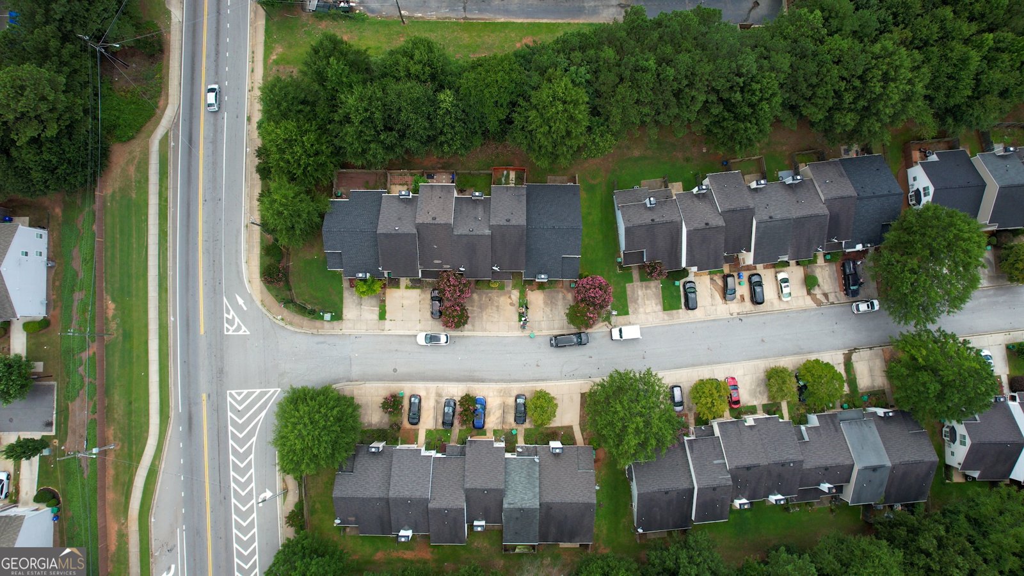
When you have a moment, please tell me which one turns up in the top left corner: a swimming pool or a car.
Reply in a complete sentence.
What appears in the top left corner is a car.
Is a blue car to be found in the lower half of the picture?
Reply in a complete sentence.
Yes, looking in the lower half of the picture, one can make out a blue car.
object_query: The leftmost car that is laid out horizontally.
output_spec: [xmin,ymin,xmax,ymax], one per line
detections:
[416,331,450,347]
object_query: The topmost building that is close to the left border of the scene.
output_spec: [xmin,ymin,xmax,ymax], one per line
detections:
[0,224,48,321]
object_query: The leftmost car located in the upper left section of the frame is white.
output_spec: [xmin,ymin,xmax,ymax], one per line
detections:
[206,84,222,113]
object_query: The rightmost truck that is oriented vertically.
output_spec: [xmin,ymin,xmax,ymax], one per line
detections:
[840,259,862,298]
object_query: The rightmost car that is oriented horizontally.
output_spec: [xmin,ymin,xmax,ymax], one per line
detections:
[848,299,880,315]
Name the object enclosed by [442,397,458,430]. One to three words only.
car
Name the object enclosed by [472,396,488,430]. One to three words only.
car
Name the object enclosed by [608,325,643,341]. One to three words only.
vehicle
